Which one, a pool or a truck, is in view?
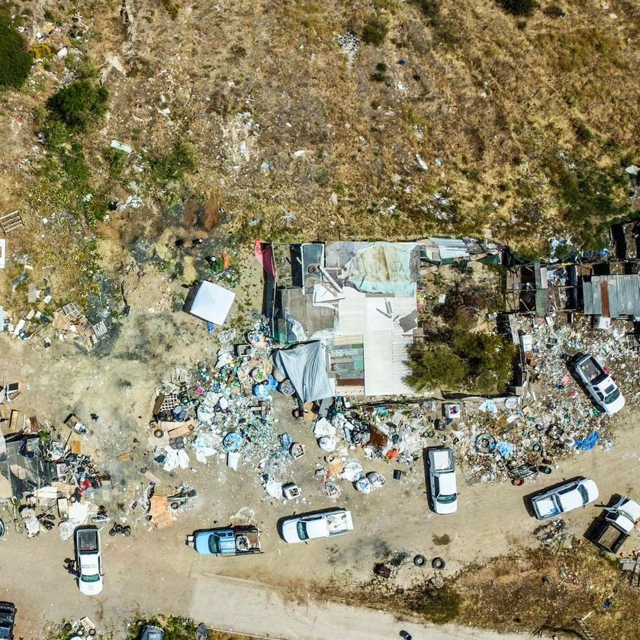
truck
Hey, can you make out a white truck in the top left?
No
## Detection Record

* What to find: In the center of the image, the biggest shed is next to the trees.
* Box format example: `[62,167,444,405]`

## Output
[275,243,421,397]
